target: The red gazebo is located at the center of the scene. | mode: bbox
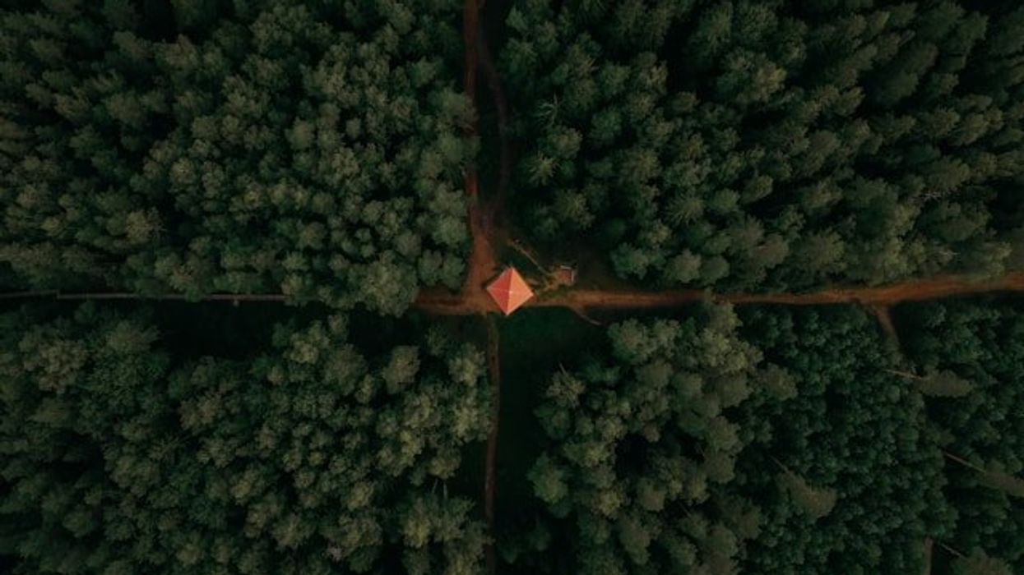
[487,267,533,315]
